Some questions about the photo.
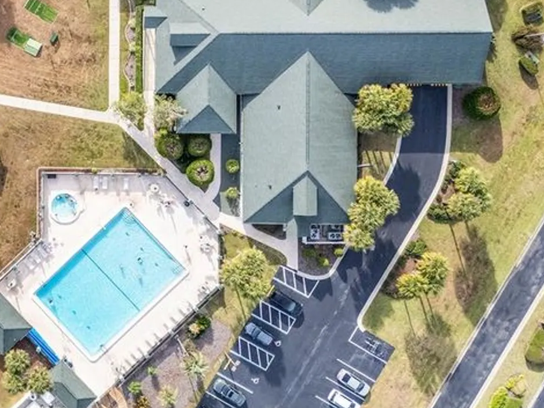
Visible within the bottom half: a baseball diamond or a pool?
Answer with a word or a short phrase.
pool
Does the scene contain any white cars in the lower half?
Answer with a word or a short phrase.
Yes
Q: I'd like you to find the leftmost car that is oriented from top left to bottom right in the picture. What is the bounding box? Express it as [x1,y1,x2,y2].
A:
[210,377,249,408]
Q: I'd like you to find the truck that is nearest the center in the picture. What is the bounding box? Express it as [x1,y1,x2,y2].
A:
[262,287,306,320]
